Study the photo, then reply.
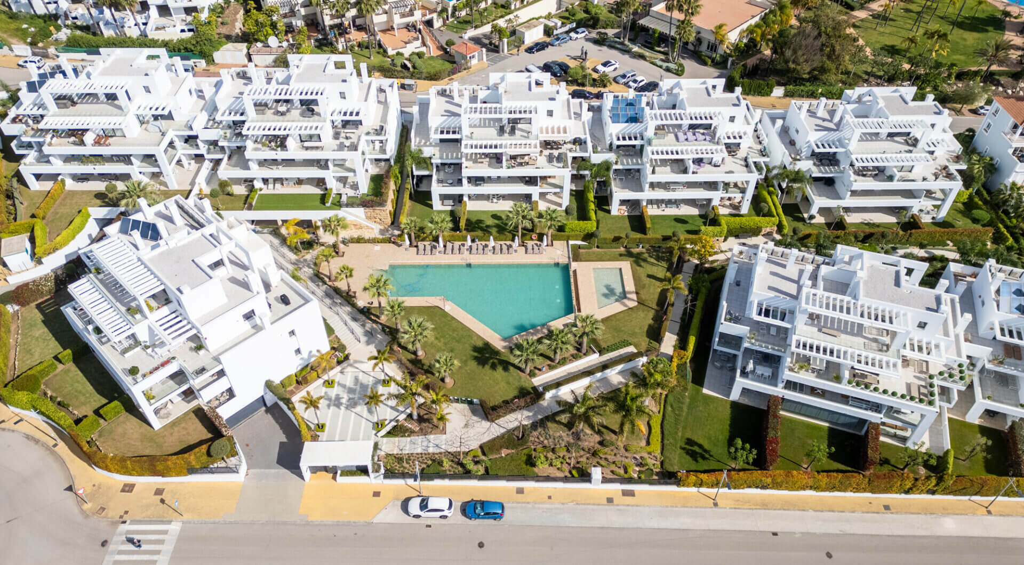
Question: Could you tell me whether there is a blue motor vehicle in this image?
Yes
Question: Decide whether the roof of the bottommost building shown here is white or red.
white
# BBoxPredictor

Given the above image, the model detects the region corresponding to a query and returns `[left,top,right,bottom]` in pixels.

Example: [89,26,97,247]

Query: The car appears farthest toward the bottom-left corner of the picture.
[407,495,454,521]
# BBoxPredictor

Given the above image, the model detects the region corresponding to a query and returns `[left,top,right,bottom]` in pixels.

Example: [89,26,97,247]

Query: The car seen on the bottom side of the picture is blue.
[463,499,505,523]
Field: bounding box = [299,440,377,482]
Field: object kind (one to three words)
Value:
building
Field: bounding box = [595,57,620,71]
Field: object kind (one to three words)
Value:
car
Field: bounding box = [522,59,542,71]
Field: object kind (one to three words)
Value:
vehicle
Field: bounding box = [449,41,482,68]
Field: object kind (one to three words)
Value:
building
